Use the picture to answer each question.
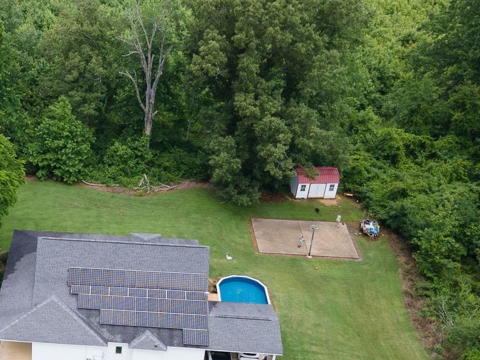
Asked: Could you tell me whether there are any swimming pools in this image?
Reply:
Yes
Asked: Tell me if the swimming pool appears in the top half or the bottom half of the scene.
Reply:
bottom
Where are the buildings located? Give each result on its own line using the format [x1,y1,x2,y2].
[288,166,340,198]
[0,231,284,360]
